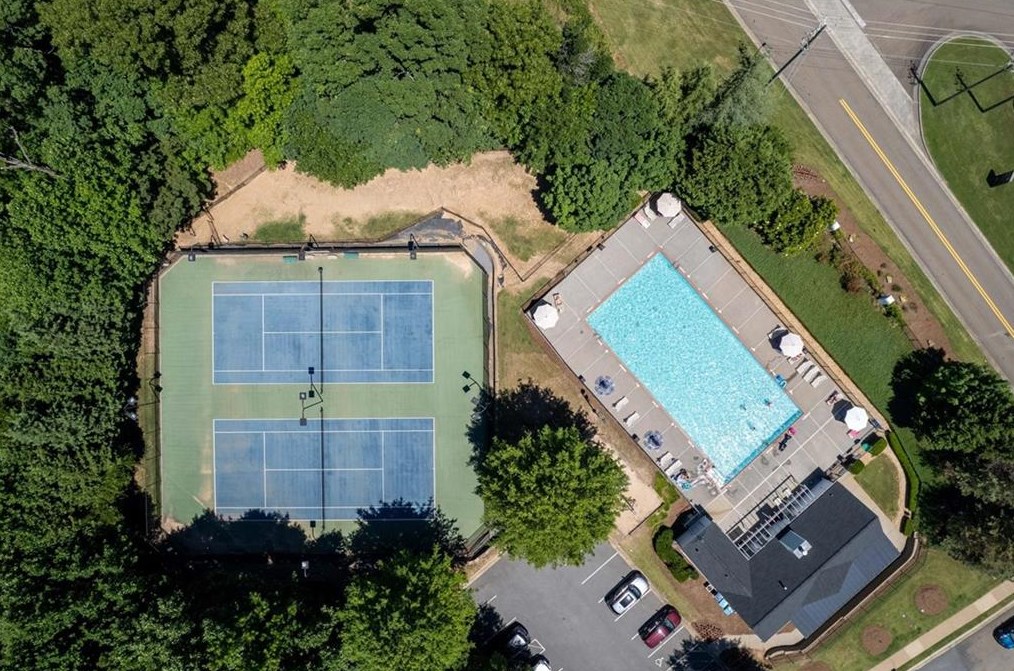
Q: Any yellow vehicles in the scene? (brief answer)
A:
No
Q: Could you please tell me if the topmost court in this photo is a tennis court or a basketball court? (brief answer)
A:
tennis court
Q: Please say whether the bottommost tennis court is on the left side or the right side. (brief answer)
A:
left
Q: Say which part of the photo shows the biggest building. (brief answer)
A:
bottom right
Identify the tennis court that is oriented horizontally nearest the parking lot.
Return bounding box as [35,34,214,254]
[214,419,435,521]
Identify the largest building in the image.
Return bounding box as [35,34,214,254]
[674,481,900,641]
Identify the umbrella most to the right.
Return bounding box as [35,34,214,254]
[844,406,868,431]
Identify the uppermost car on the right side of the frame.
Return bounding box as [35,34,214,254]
[604,573,647,615]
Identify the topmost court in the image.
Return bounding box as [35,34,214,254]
[212,281,434,383]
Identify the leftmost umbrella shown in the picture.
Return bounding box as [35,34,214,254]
[534,304,558,329]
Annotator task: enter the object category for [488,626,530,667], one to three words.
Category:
car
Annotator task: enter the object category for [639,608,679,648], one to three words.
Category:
car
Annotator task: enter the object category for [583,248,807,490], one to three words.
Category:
swimming pool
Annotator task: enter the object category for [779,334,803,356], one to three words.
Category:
umbrella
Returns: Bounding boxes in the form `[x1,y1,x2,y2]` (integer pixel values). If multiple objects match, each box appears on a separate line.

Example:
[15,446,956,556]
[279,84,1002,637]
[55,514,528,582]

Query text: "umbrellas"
[844,406,868,431]
[779,334,803,356]
[658,194,680,217]
[534,304,558,329]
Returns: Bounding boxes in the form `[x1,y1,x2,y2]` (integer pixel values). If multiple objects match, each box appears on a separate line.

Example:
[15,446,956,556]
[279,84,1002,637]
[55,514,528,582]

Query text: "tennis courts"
[214,419,435,521]
[212,281,434,383]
